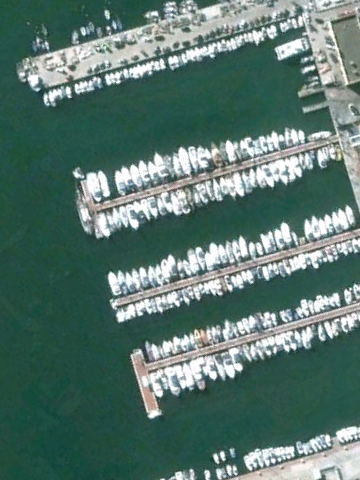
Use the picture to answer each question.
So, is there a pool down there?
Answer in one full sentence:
No, the frame has no pool in it.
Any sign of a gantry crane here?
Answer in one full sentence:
No, there is no gantry crane in the image.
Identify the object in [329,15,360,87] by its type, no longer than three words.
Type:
building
